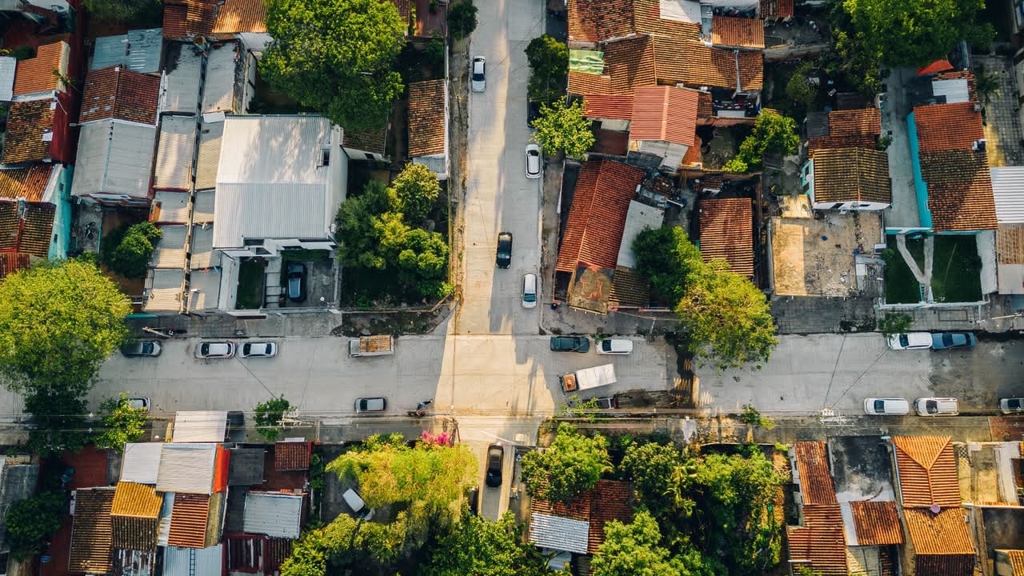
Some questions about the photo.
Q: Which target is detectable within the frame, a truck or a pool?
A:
truck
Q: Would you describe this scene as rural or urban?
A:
urban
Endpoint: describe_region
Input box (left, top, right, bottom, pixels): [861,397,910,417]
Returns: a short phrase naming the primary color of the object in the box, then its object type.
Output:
white vehicle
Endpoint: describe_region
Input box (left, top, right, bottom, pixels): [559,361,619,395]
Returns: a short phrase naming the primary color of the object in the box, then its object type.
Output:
white truck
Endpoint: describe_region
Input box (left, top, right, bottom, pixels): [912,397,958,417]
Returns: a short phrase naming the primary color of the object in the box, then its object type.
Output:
white car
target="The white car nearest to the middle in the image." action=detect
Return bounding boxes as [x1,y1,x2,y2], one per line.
[521,273,539,308]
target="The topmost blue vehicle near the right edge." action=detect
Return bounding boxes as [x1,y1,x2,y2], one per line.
[931,331,975,350]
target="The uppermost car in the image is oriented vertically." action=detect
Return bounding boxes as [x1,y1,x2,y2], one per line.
[470,56,487,93]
